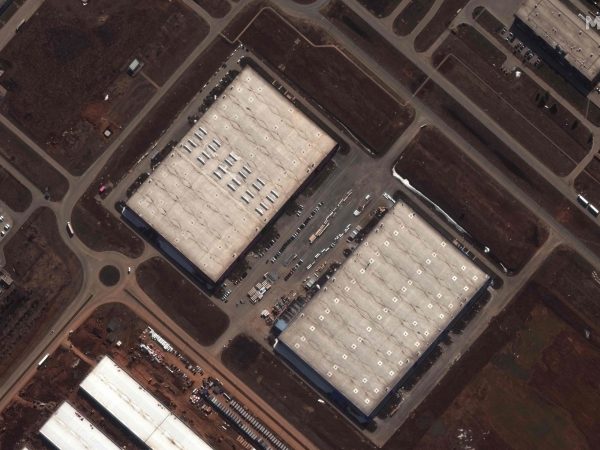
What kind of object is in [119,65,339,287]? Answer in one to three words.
warehouse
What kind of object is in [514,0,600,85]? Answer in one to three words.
building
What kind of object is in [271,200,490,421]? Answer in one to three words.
warehouse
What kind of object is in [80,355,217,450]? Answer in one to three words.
shed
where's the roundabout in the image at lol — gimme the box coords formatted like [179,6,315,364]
[84,251,135,301]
